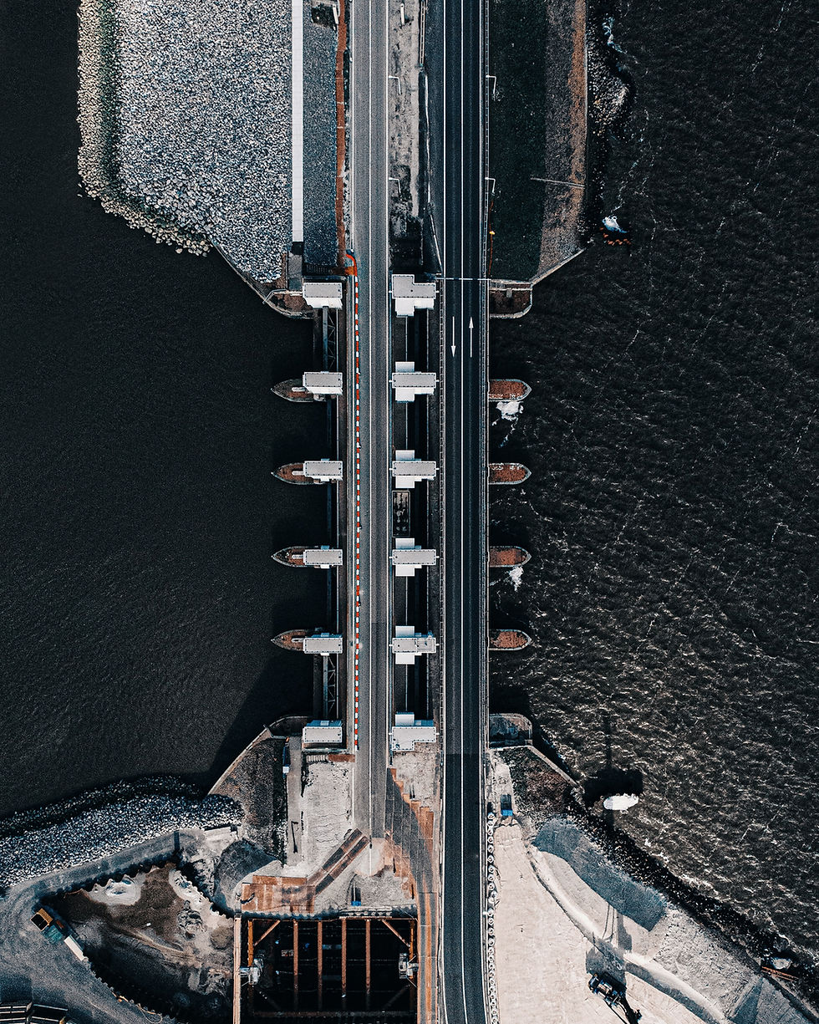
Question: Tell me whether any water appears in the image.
Yes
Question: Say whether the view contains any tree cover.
No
